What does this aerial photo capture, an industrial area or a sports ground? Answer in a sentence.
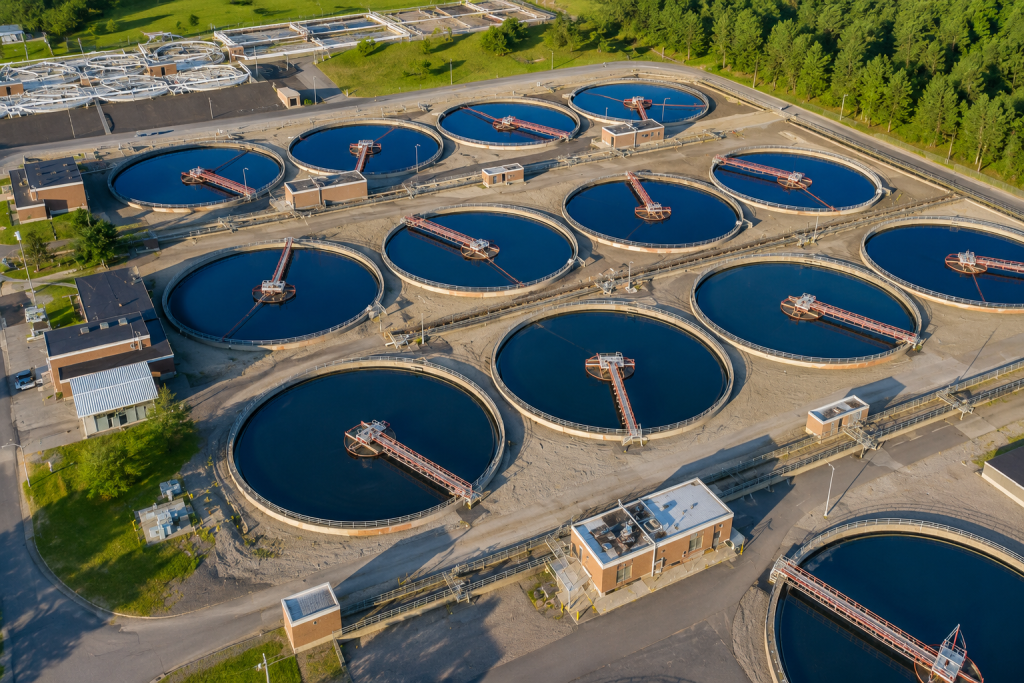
The area seen from above is an industrial area.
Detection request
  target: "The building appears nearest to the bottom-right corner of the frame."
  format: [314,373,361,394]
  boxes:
[977,445,1024,513]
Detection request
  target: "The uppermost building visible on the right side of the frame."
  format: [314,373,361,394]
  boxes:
[600,119,664,150]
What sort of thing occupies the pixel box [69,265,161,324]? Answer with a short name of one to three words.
building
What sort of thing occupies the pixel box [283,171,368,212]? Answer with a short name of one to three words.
house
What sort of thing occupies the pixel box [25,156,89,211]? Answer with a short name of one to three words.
building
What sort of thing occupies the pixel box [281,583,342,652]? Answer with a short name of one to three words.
shed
